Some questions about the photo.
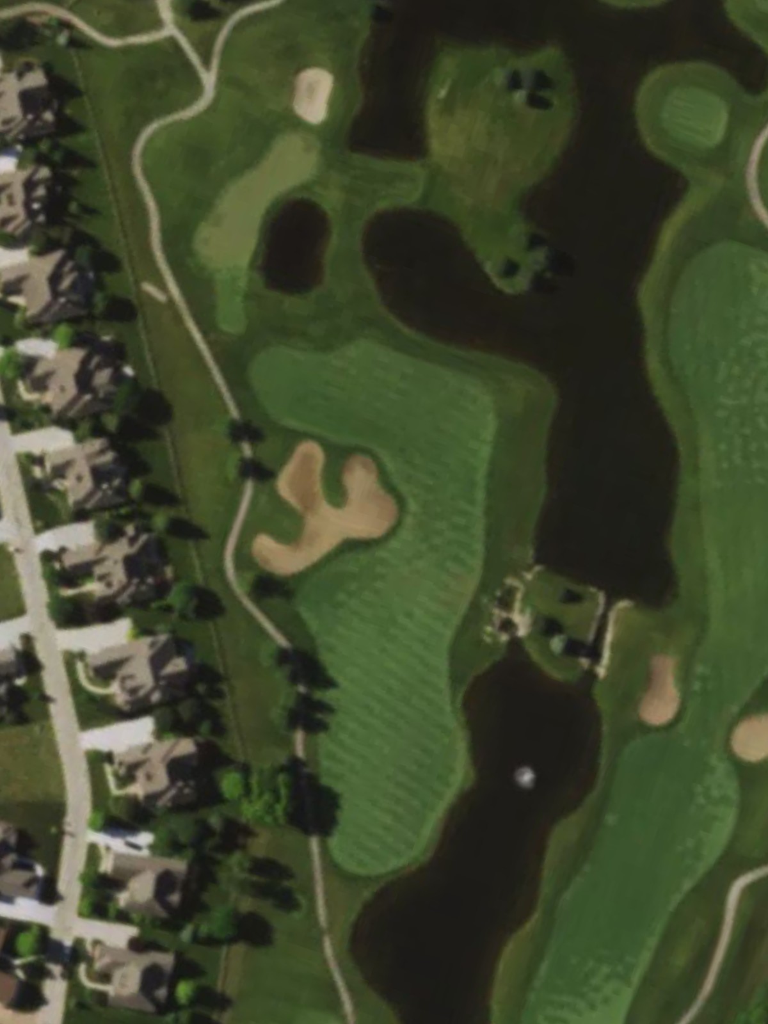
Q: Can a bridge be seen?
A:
No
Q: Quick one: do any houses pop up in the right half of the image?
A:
No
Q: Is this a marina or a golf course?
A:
golf course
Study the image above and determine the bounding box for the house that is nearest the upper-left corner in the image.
[0,57,62,144]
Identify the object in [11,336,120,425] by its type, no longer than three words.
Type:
house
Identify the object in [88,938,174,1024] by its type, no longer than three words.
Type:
house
